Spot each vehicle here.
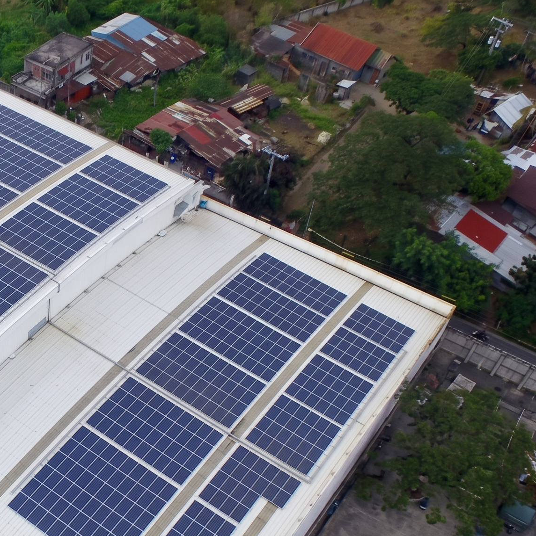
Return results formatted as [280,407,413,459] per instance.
[493,500,536,528]
[472,331,490,340]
